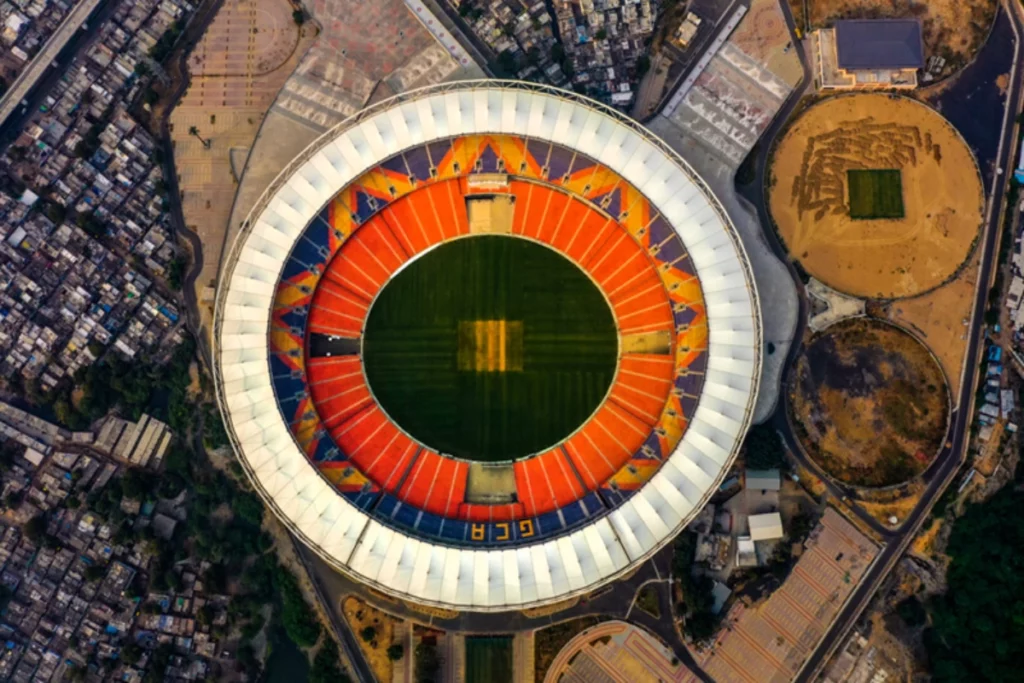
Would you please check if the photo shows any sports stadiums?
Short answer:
Yes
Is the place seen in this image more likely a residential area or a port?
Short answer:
residential area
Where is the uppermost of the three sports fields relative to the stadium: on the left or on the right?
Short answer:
right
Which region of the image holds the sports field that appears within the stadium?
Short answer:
center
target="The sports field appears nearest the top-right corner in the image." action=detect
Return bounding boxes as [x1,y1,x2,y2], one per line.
[770,94,983,297]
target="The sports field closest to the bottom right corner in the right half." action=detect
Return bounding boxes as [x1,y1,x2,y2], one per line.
[789,317,950,488]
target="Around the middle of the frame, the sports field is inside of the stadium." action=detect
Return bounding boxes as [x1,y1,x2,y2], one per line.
[363,237,618,461]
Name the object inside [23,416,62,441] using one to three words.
house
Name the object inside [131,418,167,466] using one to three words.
shed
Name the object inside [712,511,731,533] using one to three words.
building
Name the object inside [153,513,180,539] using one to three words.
barn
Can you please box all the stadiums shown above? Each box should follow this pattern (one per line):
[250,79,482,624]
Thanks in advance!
[212,79,763,612]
